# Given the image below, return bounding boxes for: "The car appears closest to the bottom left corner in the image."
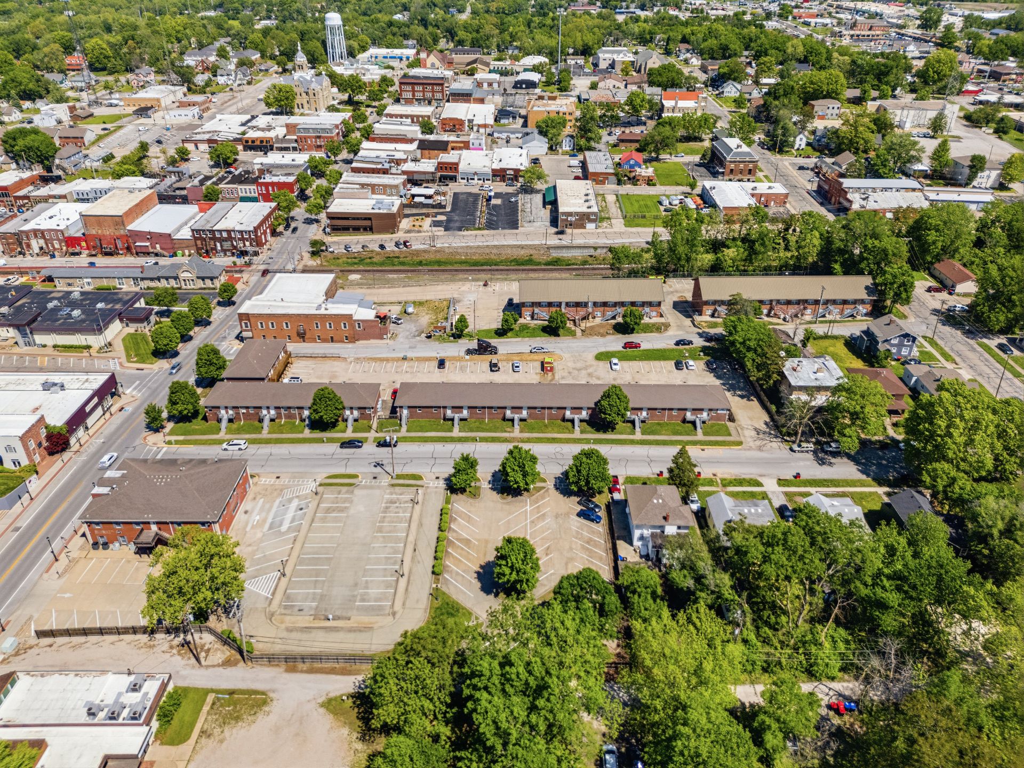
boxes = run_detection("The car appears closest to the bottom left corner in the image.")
[98,452,116,468]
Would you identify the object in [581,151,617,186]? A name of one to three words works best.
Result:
building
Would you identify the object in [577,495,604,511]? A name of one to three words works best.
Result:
car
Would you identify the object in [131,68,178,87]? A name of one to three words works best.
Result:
house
